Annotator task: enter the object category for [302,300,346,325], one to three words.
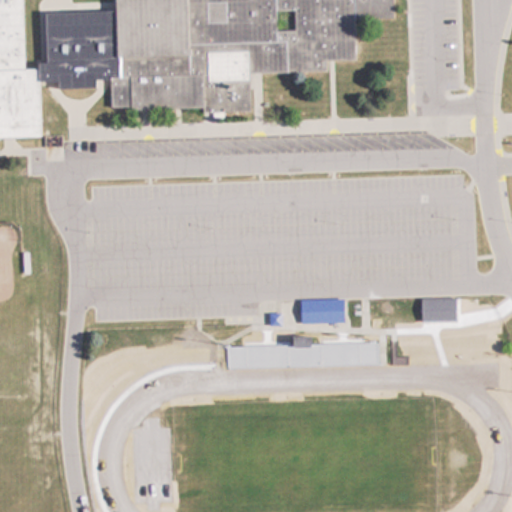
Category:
building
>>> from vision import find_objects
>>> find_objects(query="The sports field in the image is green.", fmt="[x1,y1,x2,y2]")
[159,395,483,512]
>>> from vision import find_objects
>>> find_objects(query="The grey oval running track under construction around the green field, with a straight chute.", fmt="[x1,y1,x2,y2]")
[98,362,512,512]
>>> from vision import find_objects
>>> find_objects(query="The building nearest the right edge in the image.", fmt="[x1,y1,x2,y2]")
[422,299,457,322]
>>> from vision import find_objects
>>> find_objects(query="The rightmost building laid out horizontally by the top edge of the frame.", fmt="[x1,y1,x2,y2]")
[110,0,394,119]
